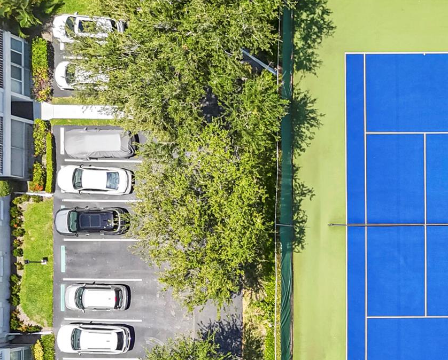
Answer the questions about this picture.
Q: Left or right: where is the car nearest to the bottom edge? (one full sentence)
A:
You can find the car nearest to the bottom edge on the left side of the picture.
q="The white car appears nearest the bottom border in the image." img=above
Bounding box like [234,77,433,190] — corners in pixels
[58,323,130,357]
